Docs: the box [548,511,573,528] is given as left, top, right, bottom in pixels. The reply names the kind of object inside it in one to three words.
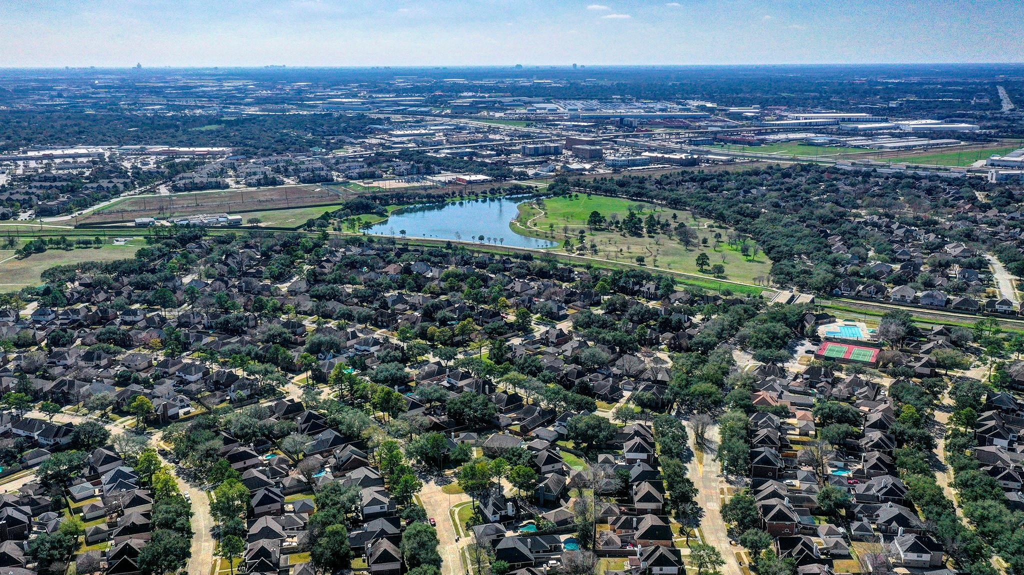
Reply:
building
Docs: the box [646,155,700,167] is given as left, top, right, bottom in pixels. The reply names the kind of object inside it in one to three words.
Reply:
building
